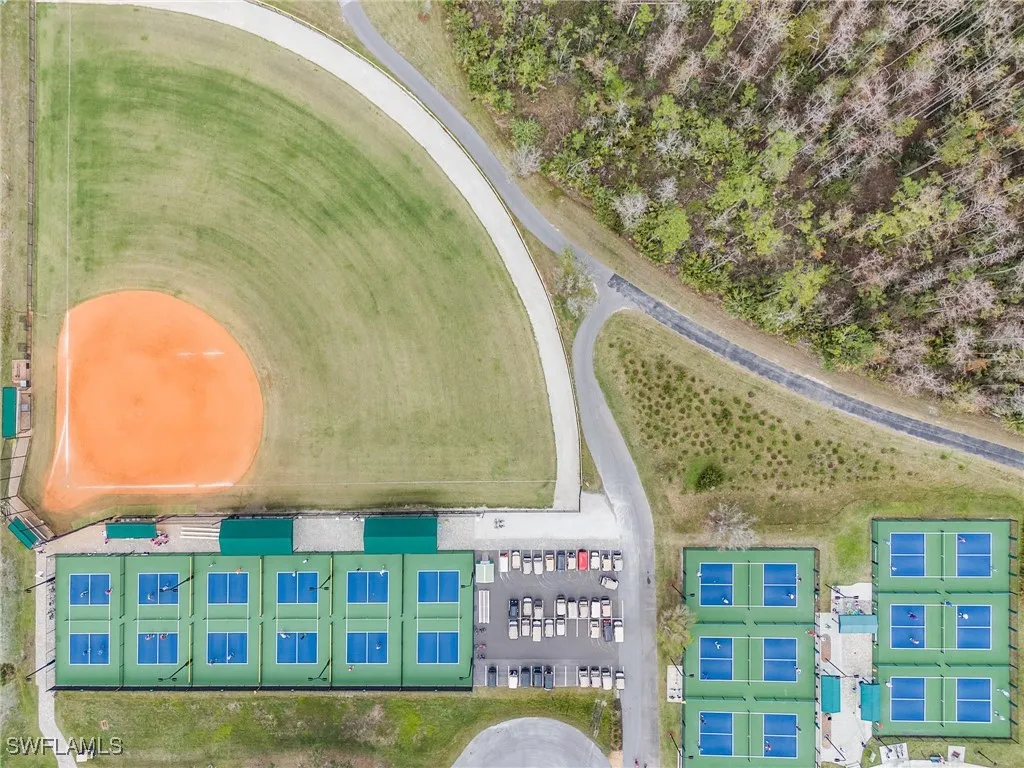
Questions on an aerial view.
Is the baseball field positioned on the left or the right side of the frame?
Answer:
left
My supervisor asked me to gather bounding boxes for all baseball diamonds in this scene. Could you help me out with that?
[19,0,585,537]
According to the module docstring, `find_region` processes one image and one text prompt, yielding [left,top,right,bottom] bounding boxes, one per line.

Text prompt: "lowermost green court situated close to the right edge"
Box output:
[879,666,1010,736]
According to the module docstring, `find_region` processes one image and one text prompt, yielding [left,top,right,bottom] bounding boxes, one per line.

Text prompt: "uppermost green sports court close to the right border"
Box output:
[879,521,1010,592]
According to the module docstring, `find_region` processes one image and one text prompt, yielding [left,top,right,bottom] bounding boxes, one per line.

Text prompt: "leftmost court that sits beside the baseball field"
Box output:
[55,556,124,687]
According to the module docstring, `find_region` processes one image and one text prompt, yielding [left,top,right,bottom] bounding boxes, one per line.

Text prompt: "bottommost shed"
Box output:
[475,558,494,585]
